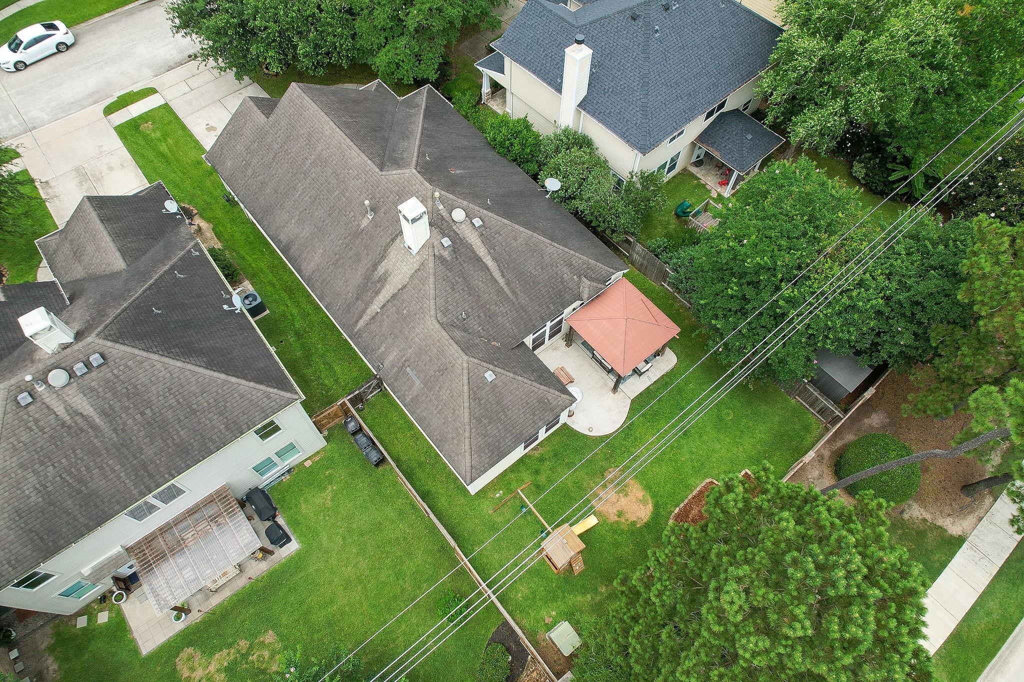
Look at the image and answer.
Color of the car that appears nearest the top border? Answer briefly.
white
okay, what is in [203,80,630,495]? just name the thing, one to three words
house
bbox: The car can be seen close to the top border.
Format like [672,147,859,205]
[0,17,72,67]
